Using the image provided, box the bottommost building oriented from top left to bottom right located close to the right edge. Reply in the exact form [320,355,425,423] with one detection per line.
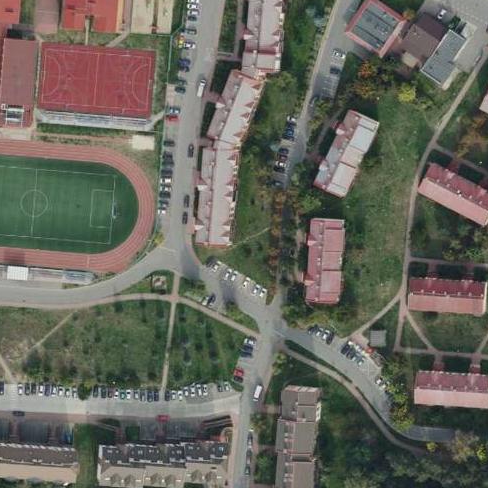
[418,163,488,226]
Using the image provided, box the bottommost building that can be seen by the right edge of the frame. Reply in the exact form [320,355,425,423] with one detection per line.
[414,370,488,410]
